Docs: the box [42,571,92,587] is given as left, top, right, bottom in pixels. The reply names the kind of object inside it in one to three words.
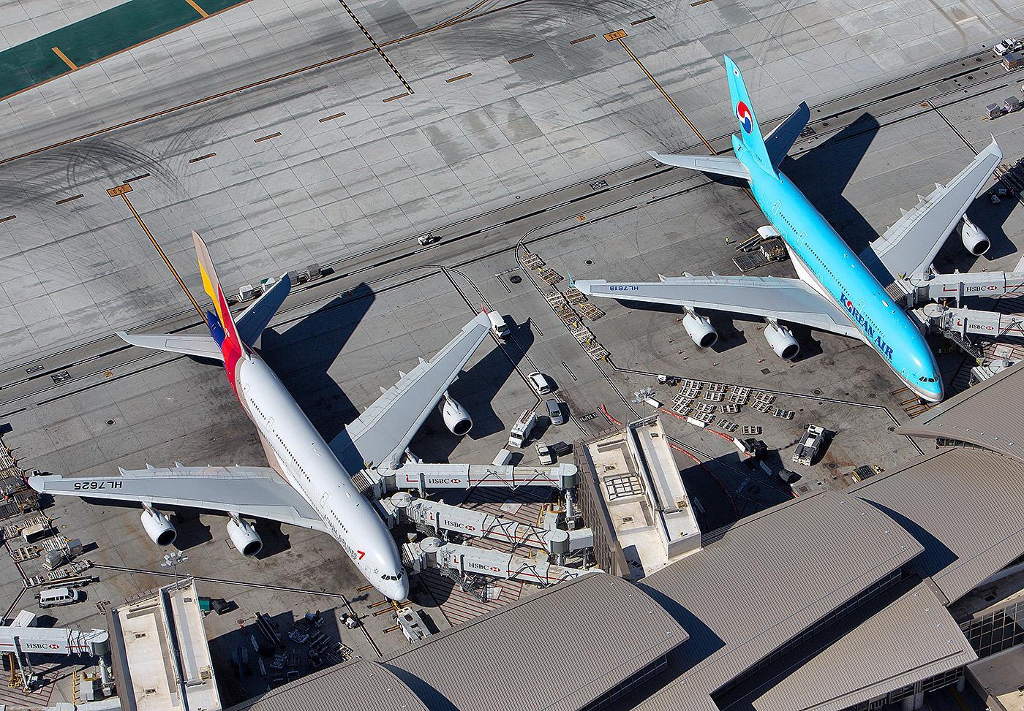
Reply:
work vehicle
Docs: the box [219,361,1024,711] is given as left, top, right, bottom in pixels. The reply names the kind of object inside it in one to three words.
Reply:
building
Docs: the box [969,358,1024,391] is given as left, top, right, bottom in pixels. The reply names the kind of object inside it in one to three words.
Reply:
jet bridge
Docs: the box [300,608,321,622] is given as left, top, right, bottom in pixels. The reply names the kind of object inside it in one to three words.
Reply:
vehicle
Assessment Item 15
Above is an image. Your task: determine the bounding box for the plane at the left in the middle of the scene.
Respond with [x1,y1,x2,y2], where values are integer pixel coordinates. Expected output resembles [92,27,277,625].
[20,228,490,603]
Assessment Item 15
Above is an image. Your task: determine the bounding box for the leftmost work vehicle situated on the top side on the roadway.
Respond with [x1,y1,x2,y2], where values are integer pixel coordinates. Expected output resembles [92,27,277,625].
[416,229,436,246]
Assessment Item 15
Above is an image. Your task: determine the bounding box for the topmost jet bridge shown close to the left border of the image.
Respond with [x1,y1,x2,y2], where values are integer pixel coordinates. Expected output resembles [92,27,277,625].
[0,628,120,702]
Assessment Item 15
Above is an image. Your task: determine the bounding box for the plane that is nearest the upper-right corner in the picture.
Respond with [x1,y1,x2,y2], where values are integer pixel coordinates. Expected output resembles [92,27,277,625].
[566,53,1002,404]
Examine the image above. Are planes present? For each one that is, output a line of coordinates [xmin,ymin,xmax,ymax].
[566,53,1002,404]
[20,228,490,603]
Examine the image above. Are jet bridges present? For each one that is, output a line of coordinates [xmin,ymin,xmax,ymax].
[368,491,596,569]
[0,628,120,702]
[888,269,1024,338]
[34,694,131,711]
[904,302,1024,369]
[969,358,1024,391]
[395,536,604,608]
[353,457,583,530]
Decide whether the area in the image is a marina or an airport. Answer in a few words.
airport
